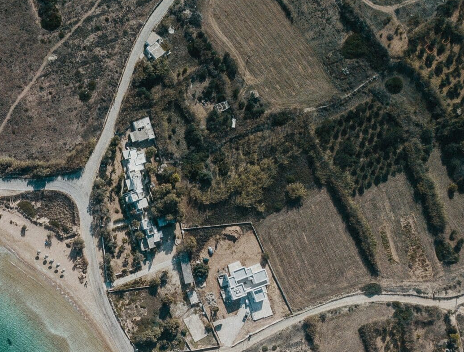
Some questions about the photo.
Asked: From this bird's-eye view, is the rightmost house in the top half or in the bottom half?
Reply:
bottom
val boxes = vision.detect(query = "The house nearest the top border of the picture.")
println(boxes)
[145,31,170,62]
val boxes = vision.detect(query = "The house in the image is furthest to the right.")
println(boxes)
[217,261,273,321]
